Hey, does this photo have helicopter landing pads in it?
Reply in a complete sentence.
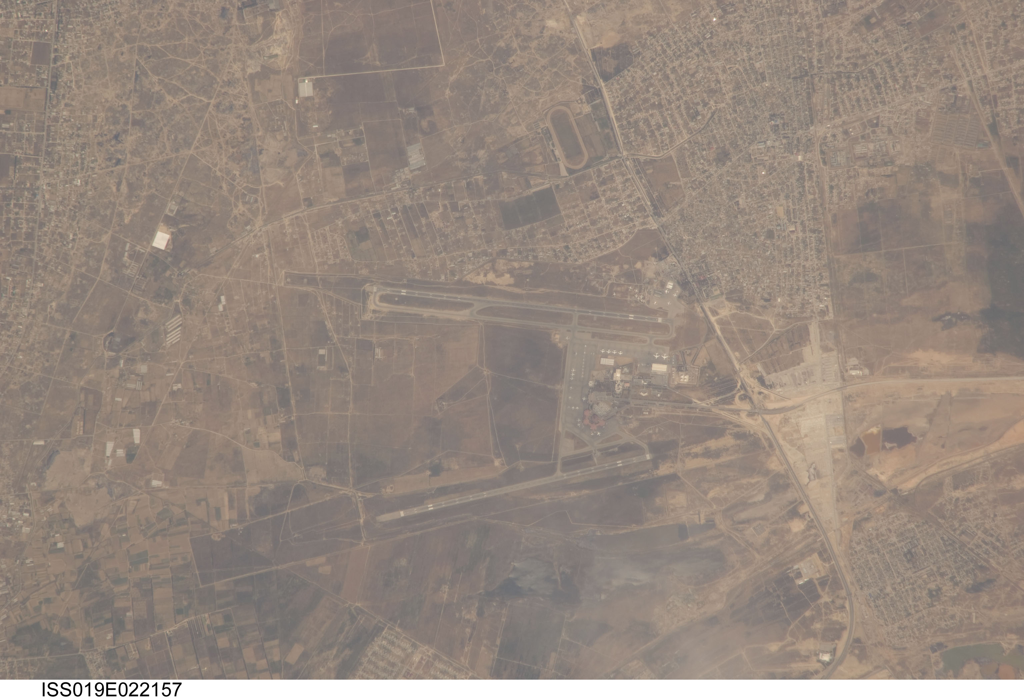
No, the picture doesn't show any helicopter landing pad.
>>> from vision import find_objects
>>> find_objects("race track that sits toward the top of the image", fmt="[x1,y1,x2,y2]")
[547,106,589,169]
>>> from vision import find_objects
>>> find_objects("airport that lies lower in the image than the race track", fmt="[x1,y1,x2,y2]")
[366,254,684,522]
